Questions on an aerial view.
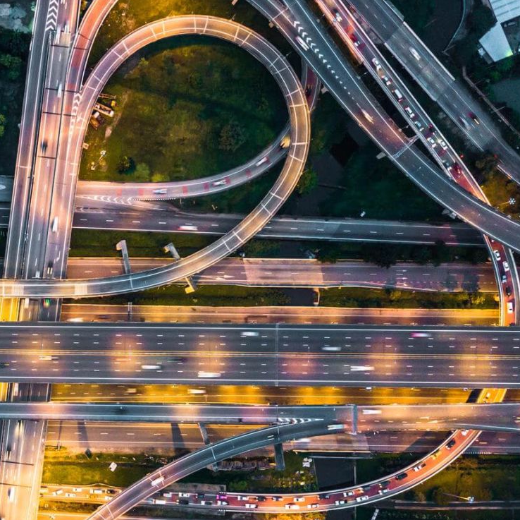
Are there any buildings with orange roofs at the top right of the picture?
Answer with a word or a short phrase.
No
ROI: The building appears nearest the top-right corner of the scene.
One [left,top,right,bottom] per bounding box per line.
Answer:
[482,0,520,27]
